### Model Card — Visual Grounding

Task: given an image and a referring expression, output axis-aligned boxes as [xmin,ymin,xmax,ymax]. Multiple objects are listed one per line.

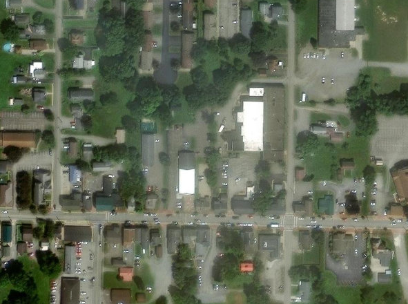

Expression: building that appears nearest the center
[178,150,194,194]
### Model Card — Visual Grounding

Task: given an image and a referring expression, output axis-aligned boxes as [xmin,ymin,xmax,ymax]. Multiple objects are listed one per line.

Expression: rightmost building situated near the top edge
[317,0,355,49]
